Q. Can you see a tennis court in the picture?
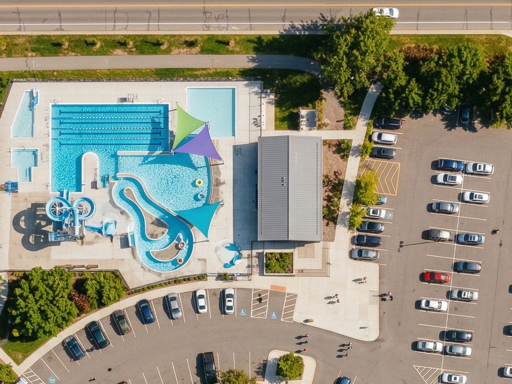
No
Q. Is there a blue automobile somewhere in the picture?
Yes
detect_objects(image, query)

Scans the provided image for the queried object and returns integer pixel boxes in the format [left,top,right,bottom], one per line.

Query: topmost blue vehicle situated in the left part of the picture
[138,298,155,325]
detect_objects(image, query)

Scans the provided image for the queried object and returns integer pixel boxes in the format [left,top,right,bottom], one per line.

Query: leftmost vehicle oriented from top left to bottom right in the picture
[67,336,88,362]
